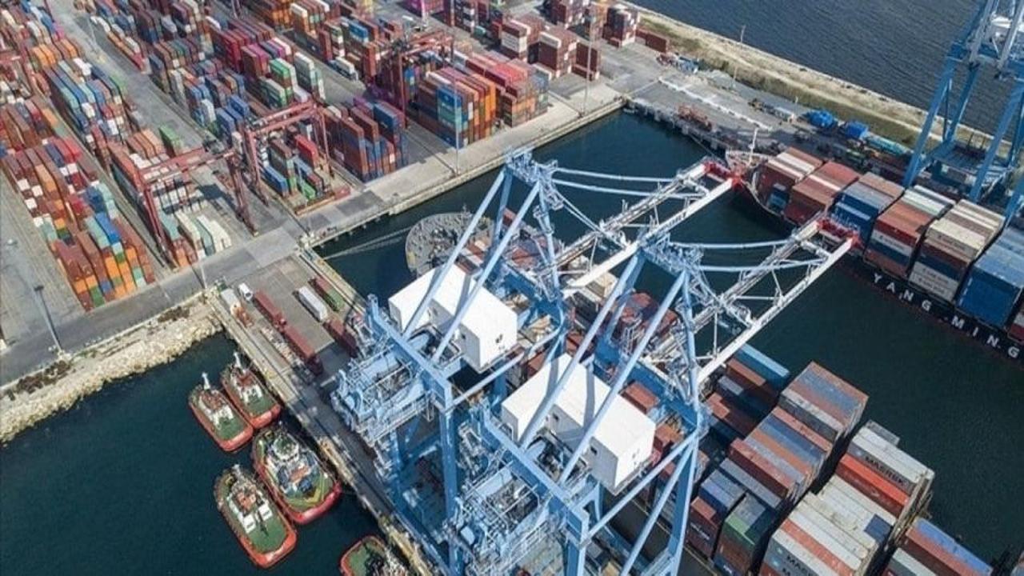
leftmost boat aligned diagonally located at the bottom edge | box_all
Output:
[217,453,300,569]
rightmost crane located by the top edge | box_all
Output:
[904,0,1024,226]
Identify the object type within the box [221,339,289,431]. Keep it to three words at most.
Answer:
boat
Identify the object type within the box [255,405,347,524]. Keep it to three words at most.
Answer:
boat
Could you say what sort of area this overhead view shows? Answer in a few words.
port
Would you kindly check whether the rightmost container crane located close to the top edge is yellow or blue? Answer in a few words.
blue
